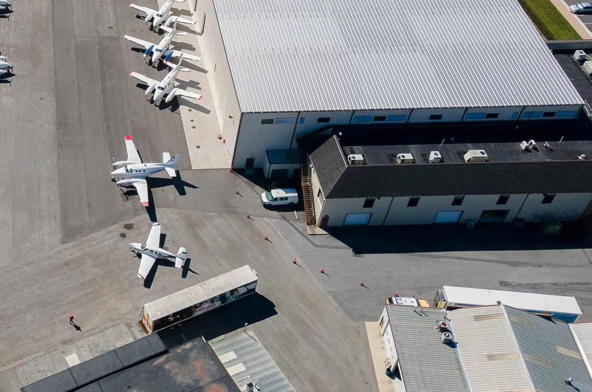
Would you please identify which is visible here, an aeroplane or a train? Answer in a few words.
aeroplane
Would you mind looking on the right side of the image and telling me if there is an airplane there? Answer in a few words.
No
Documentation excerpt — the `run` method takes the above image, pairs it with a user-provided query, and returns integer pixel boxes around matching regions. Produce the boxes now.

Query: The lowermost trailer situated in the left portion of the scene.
[135,265,258,339]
